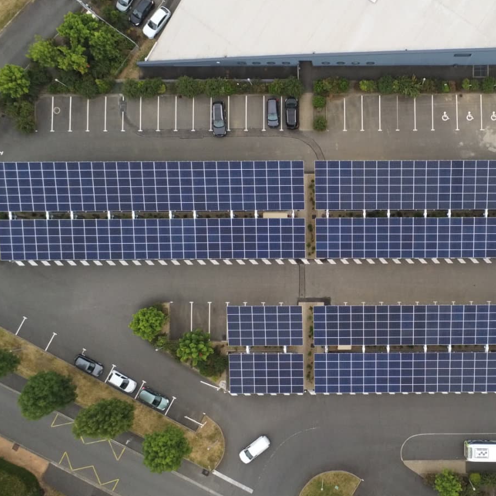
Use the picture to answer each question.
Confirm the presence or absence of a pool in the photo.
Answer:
No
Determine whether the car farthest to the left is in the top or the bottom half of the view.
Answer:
bottom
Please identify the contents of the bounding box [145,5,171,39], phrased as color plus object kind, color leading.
white car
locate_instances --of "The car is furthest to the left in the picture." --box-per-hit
[73,353,104,377]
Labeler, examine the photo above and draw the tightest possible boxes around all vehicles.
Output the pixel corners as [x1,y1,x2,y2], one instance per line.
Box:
[106,369,136,392]
[266,99,280,128]
[137,386,171,410]
[145,5,171,39]
[130,0,155,26]
[283,97,299,129]
[211,101,226,136]
[73,353,104,377]
[462,439,496,462]
[240,434,271,464]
